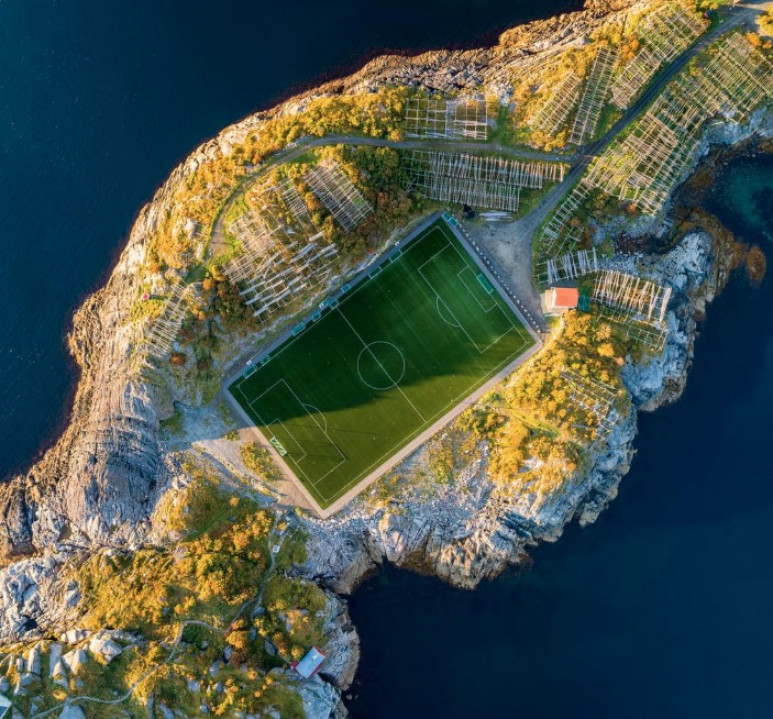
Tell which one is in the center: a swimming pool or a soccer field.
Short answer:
soccer field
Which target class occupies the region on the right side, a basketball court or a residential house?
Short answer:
residential house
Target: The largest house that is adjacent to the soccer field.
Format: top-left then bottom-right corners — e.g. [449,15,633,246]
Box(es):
[539,289,581,313]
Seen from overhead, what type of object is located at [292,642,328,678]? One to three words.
building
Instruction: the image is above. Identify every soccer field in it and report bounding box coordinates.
[219,210,546,517]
